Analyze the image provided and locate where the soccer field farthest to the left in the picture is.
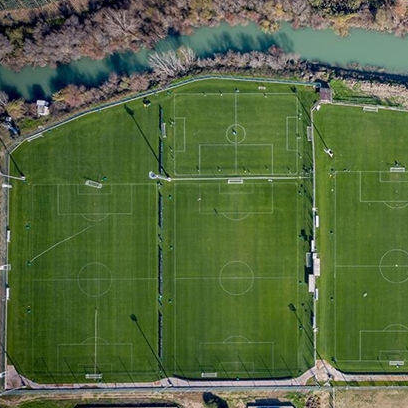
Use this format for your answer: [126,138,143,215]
[31,183,158,377]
